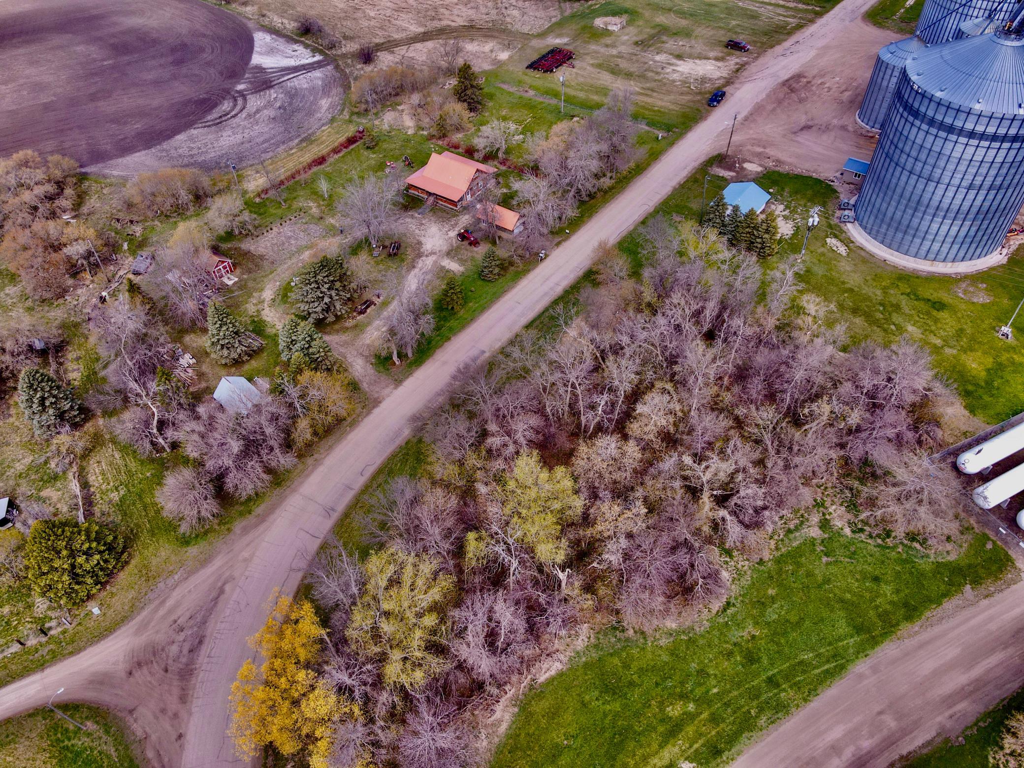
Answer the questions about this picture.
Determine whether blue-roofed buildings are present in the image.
Yes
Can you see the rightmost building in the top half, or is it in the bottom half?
top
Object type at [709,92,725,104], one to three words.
vehicle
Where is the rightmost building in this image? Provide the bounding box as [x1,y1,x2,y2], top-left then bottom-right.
[842,159,873,188]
